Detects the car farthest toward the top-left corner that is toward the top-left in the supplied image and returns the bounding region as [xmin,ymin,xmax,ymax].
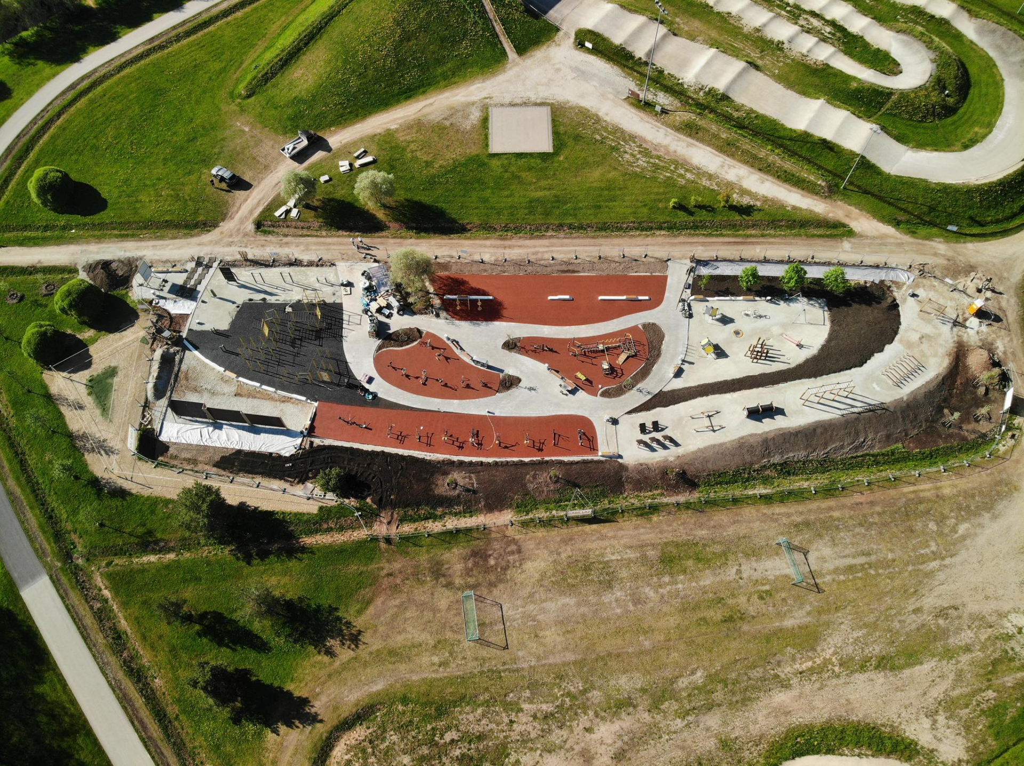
[210,169,240,188]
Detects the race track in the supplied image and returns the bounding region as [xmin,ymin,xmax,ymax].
[548,0,1024,178]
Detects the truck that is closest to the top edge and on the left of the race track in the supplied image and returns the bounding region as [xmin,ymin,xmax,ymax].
[282,130,320,159]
